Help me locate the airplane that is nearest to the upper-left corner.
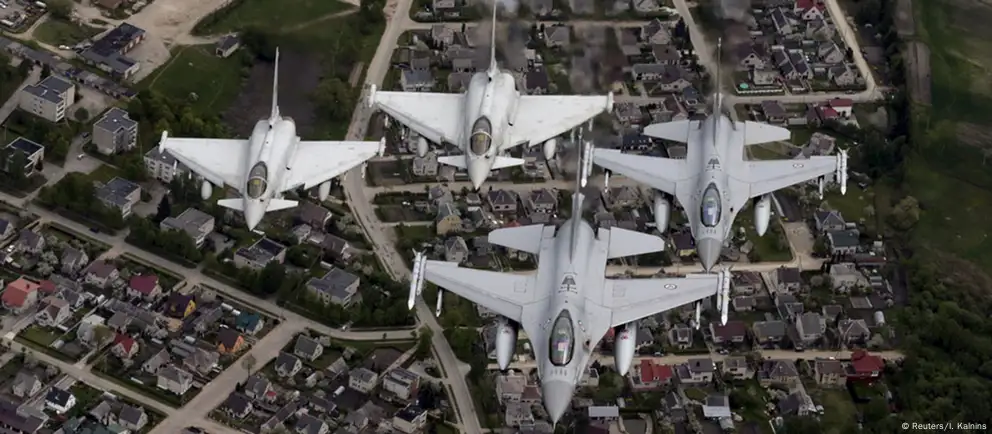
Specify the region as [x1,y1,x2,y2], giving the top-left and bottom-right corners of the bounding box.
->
[156,50,387,232]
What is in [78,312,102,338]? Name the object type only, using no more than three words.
house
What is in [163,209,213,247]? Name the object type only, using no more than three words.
building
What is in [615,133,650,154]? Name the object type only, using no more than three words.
shed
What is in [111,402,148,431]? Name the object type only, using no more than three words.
house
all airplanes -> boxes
[407,126,732,433]
[368,0,615,192]
[580,36,850,275]
[156,50,387,232]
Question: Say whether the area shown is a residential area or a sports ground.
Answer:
residential area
